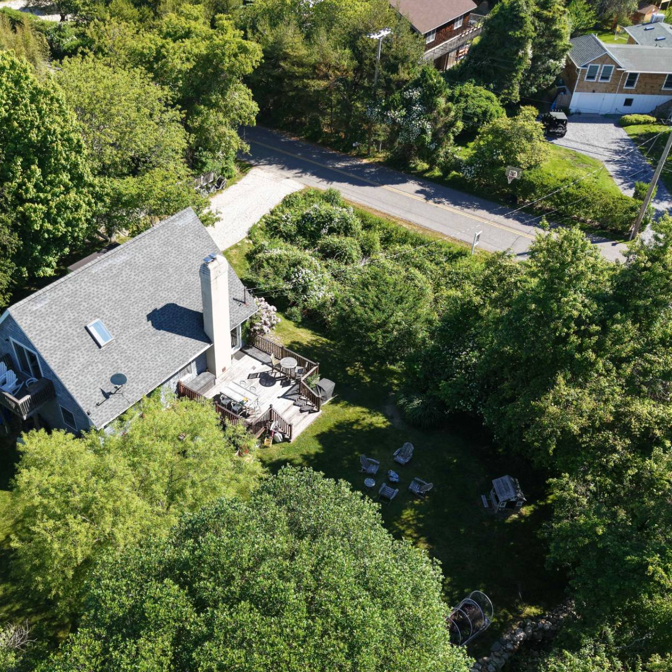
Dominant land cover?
trees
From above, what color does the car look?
black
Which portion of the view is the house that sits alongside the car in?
top right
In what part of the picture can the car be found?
top right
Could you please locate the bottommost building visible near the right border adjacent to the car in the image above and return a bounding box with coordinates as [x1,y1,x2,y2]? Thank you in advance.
[560,14,672,116]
